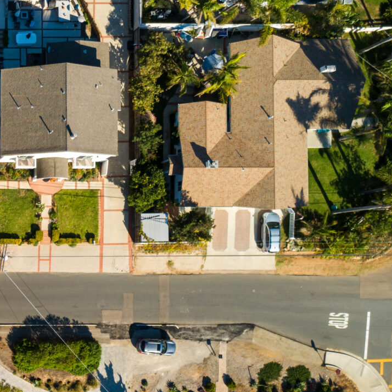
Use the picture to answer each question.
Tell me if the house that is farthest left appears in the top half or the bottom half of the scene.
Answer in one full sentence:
It is in the top half that the house that is farthest left appears.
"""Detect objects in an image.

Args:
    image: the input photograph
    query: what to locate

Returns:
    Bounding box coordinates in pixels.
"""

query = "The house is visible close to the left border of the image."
[0,38,120,180]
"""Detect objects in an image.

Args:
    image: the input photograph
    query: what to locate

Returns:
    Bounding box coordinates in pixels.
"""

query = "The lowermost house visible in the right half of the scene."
[163,37,366,208]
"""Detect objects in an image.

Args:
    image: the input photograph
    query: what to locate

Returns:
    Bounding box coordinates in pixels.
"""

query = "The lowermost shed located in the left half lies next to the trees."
[135,213,169,243]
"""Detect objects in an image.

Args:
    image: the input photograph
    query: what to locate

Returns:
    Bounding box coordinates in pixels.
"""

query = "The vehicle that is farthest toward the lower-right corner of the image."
[260,212,281,250]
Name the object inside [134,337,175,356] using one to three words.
car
